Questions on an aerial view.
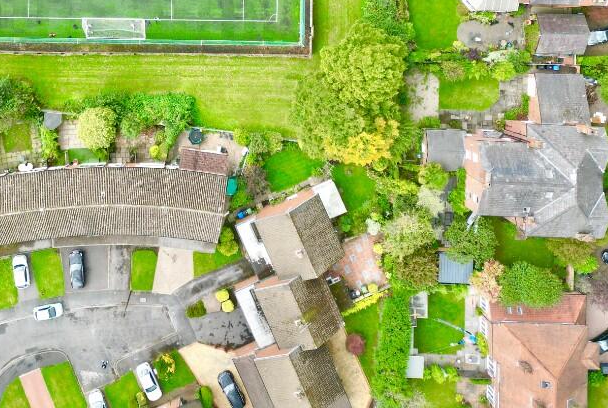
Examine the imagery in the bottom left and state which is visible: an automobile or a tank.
automobile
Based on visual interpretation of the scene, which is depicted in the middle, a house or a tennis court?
house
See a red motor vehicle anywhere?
No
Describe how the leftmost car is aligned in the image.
up and down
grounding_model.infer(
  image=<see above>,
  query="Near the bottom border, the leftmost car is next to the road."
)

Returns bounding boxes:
[85,384,105,408]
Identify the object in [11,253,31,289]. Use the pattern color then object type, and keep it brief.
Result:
white car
